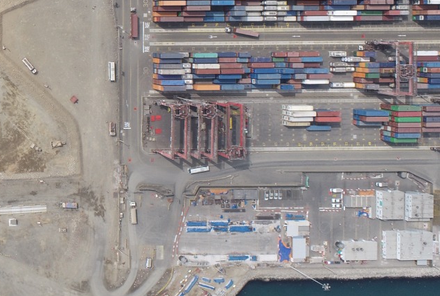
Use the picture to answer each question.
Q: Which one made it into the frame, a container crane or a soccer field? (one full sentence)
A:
Looking from above, you can make out a container crane.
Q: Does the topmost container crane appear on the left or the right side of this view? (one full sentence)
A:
The topmost container crane sits on the right side.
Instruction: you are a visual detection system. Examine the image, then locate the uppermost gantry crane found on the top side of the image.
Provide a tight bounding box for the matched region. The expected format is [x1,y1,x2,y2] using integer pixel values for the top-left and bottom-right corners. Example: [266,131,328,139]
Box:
[360,39,416,99]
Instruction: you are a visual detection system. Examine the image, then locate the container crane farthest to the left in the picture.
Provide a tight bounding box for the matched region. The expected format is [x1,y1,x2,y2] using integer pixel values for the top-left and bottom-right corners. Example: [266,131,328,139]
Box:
[148,99,191,160]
